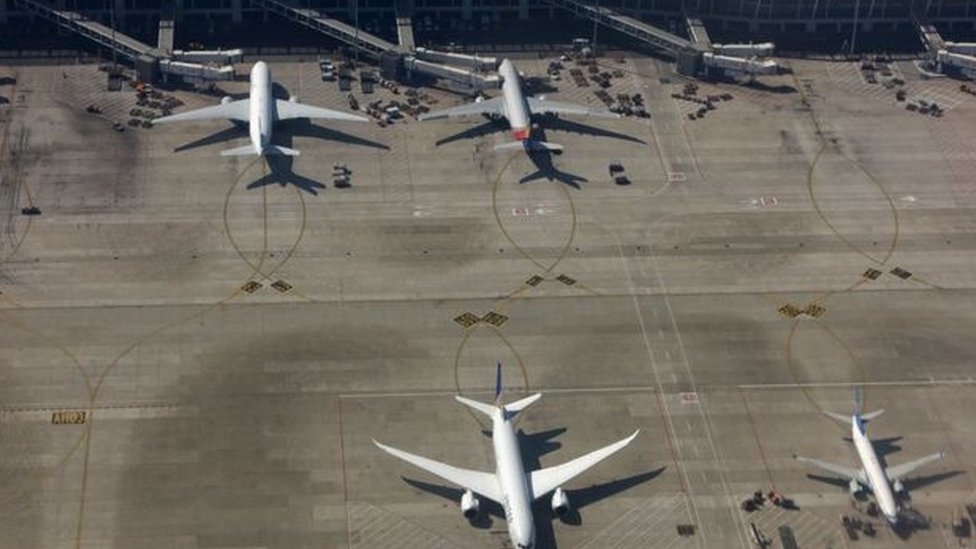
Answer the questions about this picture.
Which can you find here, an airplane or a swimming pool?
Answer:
airplane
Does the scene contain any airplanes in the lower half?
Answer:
Yes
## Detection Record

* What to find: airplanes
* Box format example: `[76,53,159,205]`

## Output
[375,357,640,549]
[152,60,369,157]
[415,60,622,152]
[789,386,945,524]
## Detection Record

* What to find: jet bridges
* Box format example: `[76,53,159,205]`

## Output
[411,46,504,75]
[933,49,976,77]
[709,39,783,71]
[697,54,790,92]
[170,44,250,68]
[155,61,243,97]
[402,57,509,100]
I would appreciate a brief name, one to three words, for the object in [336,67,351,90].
work vehicle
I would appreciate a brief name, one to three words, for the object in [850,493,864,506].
vehicle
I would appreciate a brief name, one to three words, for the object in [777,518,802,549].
work vehicle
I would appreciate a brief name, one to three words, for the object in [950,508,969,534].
vehicle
